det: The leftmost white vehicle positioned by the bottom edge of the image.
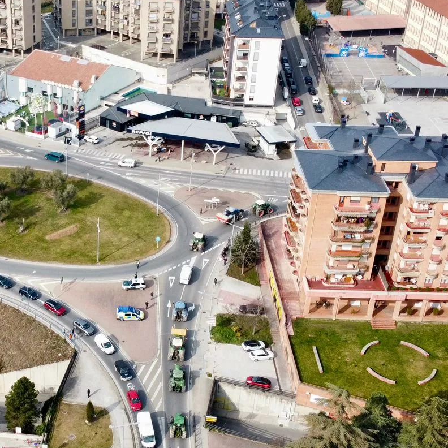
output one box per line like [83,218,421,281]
[139,408,156,446]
